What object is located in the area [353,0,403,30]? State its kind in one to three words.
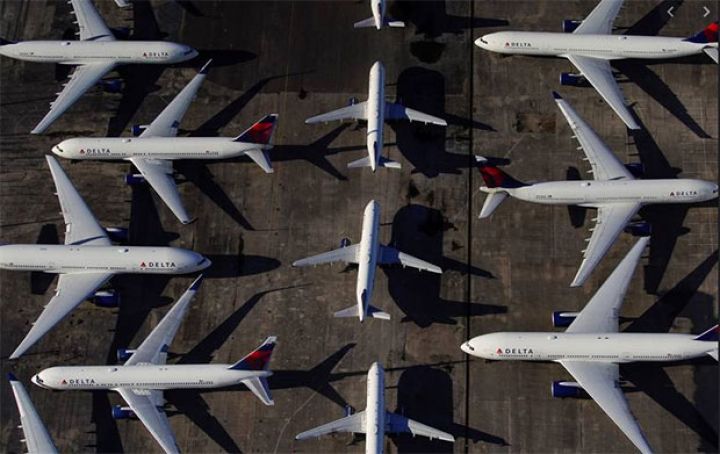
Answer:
airplane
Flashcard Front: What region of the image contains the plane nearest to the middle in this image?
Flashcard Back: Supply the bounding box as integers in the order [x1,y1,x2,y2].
[293,202,439,322]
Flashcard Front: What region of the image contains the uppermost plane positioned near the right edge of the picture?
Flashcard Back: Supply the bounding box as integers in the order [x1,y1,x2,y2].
[475,0,720,129]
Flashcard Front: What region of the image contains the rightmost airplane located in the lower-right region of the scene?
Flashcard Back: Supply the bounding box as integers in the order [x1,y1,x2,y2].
[458,235,720,454]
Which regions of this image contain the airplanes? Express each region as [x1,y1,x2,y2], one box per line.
[475,0,720,129]
[0,0,197,133]
[306,63,446,172]
[0,153,211,356]
[50,58,278,219]
[353,0,403,30]
[473,88,720,285]
[0,373,55,454]
[297,364,451,454]
[34,273,278,454]
[293,202,439,322]
[458,235,720,454]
